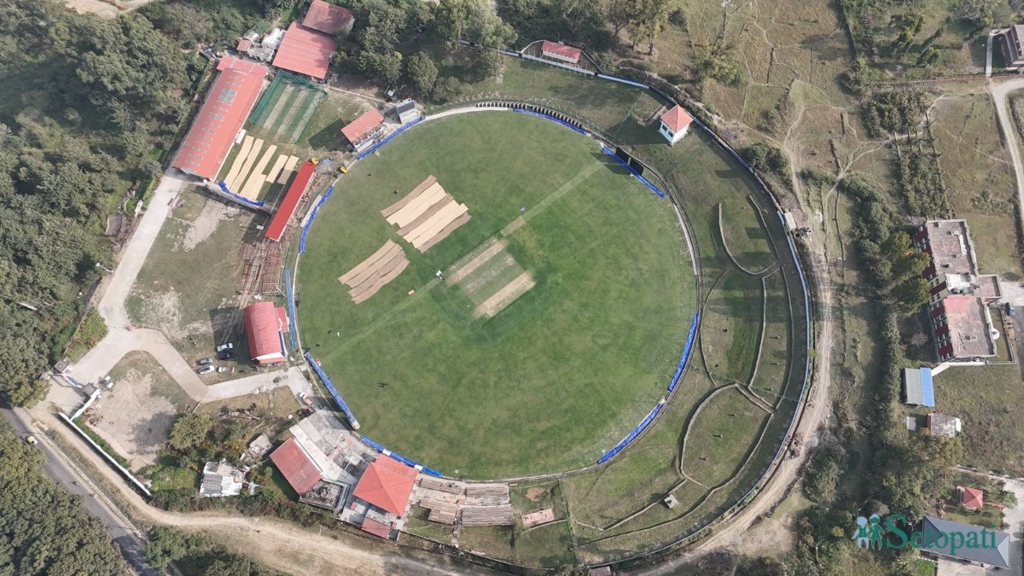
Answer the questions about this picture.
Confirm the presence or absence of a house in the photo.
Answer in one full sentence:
Yes, looking at the shot, I can spot a house.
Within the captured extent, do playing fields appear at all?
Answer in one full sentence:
Yes, a playing field can be made out from above.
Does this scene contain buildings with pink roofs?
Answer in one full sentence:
Yes, you can see a building with a pink roof in this photo.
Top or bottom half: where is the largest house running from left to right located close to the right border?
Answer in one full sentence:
The bottom half of the photo is where the largest house running from left to right located close to the right border is.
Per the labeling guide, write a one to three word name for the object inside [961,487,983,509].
gazebo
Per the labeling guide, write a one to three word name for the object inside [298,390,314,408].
vehicle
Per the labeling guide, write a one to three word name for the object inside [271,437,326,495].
house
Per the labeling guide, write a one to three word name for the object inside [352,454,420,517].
building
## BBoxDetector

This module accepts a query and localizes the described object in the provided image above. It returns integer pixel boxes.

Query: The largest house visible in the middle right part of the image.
[915,218,1004,364]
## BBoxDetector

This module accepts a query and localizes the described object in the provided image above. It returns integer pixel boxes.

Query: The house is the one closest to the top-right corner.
[995,25,1024,76]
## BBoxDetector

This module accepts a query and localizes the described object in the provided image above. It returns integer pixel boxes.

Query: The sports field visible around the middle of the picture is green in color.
[295,110,696,479]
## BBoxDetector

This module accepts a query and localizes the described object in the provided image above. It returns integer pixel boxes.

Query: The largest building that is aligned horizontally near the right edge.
[916,518,1009,569]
